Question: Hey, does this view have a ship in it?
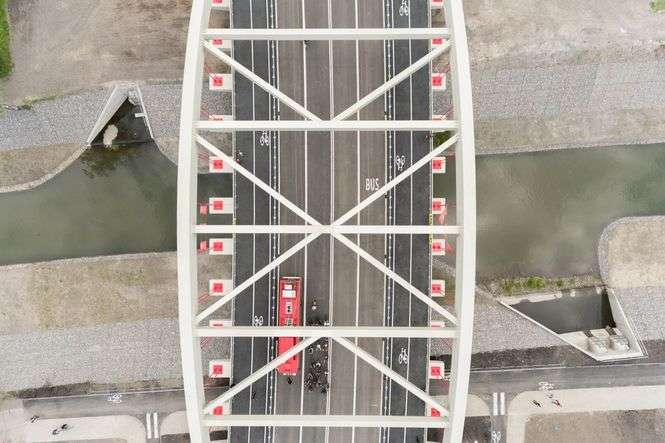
No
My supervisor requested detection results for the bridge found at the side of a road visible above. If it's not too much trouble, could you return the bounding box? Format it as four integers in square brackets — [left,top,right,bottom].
[175,0,477,443]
